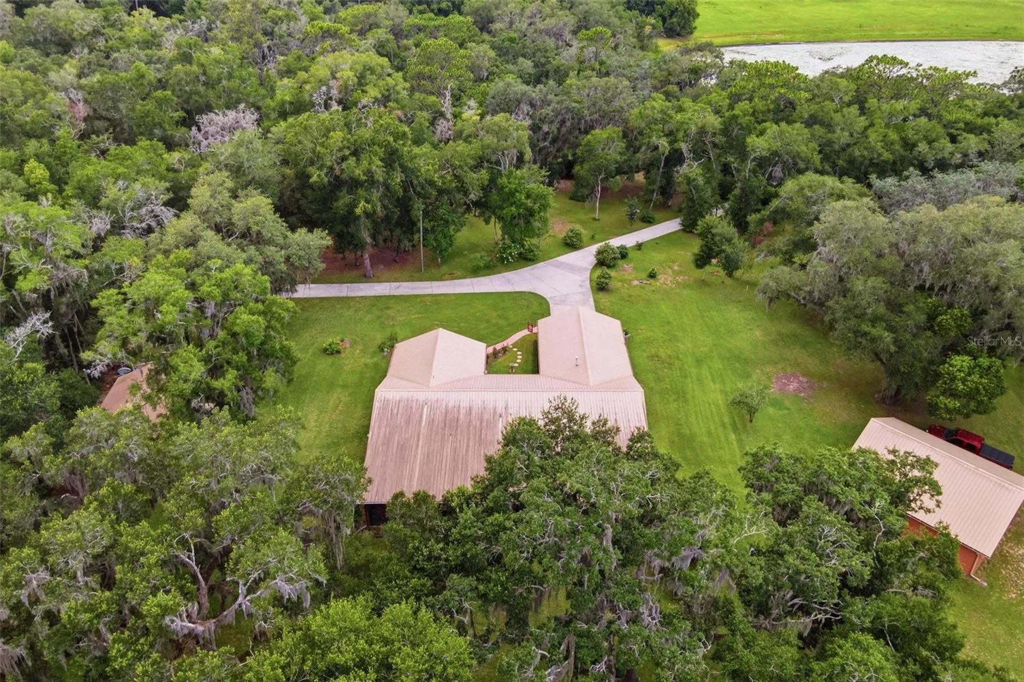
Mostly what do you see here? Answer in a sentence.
For the most part, this view shows trees.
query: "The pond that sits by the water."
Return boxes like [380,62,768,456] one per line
[717,41,1024,106]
